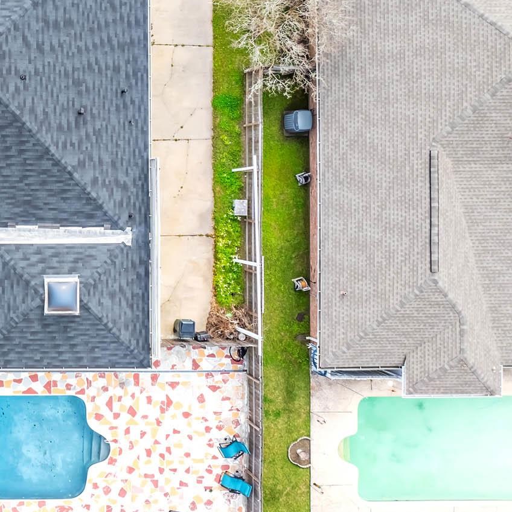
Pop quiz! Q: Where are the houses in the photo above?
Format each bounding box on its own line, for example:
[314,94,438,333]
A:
[293,0,512,398]
[0,0,160,370]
